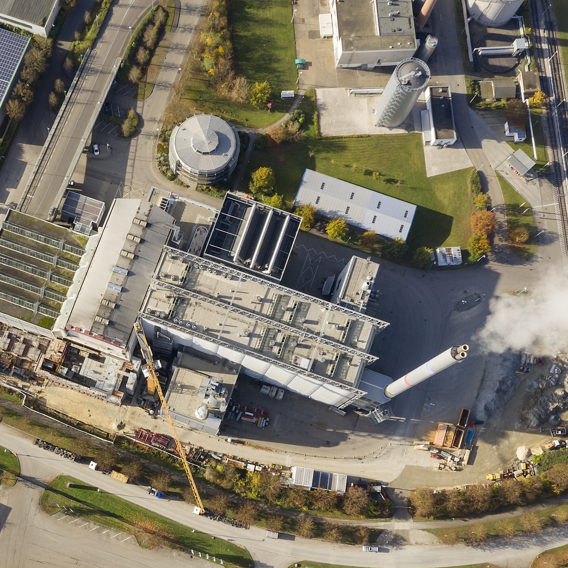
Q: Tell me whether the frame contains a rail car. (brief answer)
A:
No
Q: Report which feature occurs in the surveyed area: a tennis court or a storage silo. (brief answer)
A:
storage silo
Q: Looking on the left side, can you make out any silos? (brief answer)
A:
No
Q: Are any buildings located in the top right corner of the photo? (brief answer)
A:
Yes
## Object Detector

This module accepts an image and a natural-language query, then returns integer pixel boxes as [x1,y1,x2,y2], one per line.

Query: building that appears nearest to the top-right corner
[511,35,533,61]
